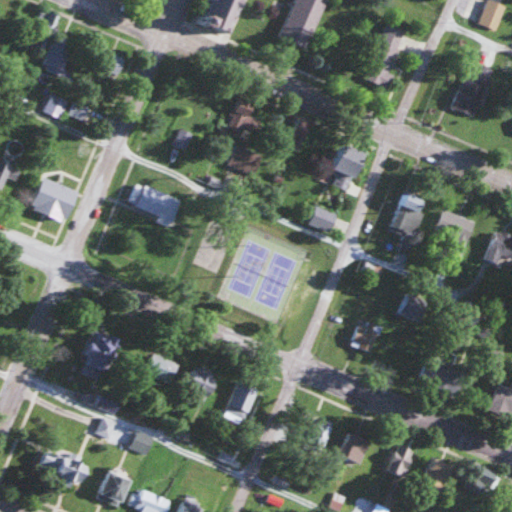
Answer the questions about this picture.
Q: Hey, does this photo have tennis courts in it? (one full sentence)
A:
Yes, there's a tennis court here.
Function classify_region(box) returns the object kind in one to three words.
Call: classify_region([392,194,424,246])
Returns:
house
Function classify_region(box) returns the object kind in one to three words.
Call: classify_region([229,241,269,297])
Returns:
tennis court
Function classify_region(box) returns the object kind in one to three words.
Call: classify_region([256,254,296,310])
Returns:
tennis court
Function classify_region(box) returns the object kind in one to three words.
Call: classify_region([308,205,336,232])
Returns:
building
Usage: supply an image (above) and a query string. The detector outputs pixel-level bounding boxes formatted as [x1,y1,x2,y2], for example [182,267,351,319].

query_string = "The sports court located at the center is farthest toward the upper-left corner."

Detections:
[193,219,225,274]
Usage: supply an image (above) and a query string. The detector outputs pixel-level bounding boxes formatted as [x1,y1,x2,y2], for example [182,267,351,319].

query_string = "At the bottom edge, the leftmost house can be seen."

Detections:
[46,447,92,488]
